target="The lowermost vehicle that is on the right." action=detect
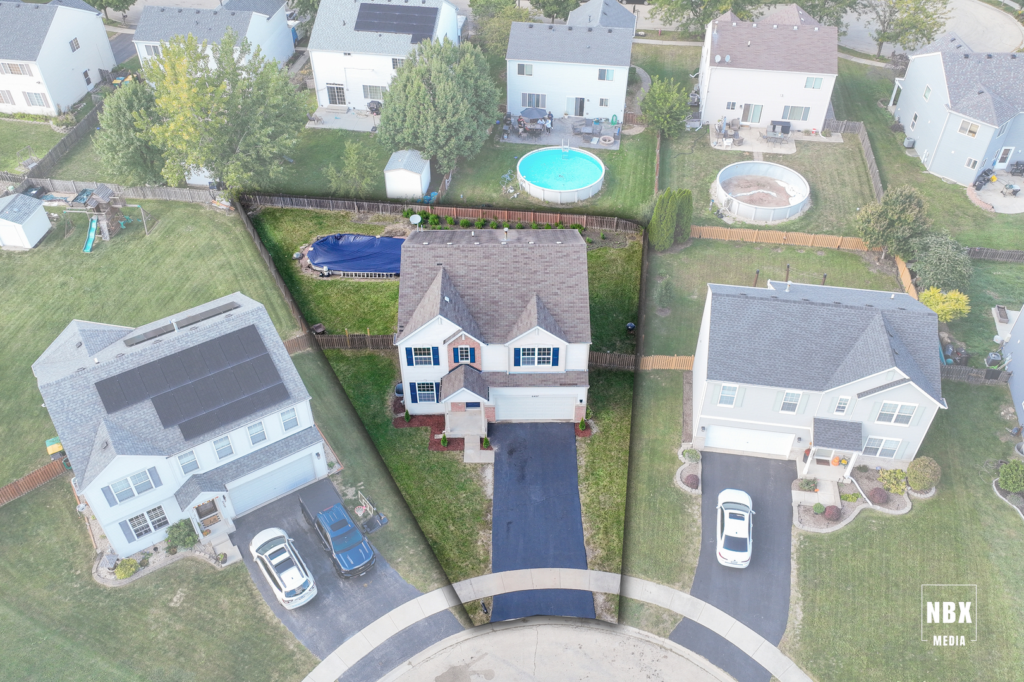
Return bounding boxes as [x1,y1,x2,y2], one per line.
[715,488,756,569]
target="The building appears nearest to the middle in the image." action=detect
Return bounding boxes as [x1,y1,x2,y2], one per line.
[395,214,593,449]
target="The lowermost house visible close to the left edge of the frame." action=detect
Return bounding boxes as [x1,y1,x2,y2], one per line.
[32,288,341,564]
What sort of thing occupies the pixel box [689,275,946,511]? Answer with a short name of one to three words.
house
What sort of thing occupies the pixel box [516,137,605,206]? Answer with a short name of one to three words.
swimming pool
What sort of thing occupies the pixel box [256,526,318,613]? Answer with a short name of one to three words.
car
